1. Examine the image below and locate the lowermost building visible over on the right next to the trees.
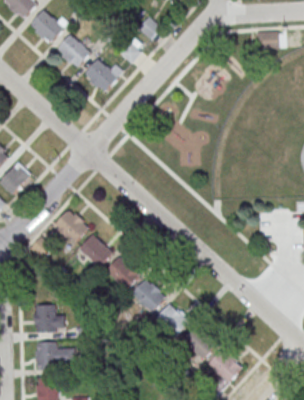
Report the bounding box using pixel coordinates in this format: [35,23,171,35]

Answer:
[210,355,242,391]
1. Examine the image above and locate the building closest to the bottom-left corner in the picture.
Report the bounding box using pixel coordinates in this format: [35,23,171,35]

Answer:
[38,379,60,400]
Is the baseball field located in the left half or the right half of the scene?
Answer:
right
